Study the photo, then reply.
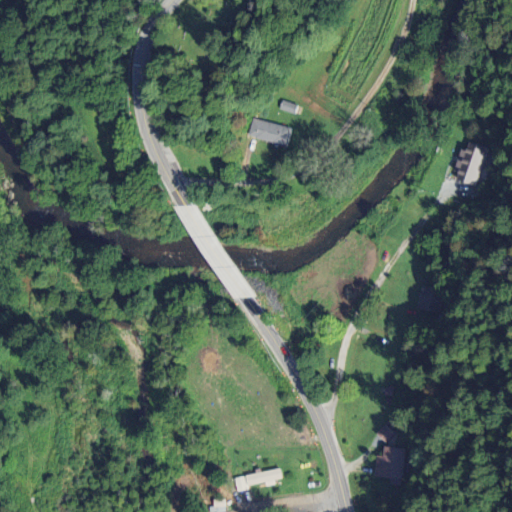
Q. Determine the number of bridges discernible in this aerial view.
one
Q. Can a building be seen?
Yes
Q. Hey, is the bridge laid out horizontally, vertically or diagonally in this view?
diagonally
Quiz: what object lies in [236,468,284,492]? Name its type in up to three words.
house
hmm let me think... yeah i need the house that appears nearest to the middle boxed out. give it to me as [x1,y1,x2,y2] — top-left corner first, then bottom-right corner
[248,118,292,147]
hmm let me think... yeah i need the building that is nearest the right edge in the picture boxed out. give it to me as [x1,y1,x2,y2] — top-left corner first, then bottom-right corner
[453,143,488,188]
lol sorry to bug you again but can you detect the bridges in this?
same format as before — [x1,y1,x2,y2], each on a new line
[175,204,256,300]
